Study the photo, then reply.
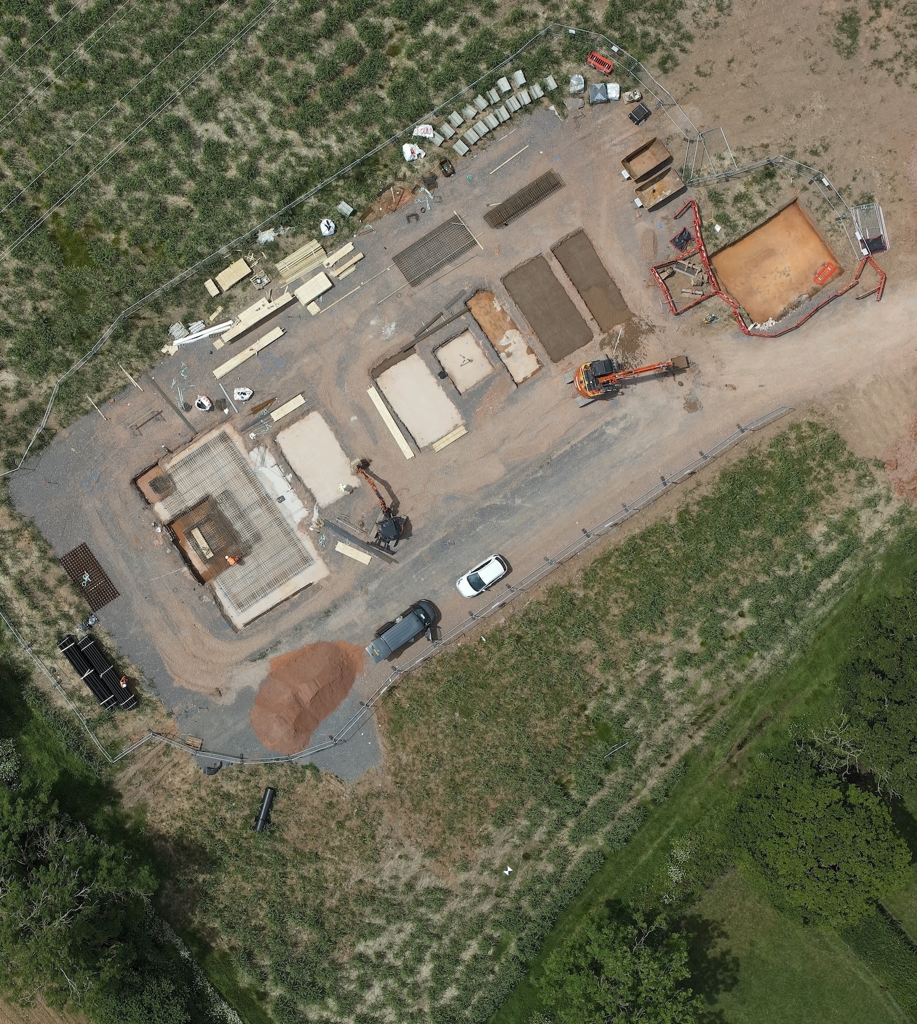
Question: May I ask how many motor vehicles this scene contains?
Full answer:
Looking from above, you can make out 4 motor vehicles.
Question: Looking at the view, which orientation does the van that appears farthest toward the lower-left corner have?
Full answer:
I'd say the van that appears farthest toward the lower-left corner is aligned on a diagonal in the picture.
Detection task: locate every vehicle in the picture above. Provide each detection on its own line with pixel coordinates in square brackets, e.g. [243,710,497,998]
[456,552,510,599]
[367,596,443,662]
[348,454,406,555]
[561,354,693,407]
